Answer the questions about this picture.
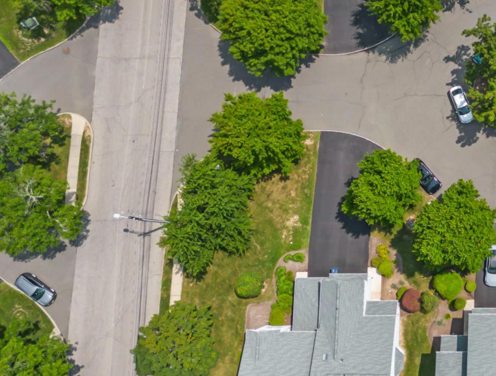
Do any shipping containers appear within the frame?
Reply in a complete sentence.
No, there appears to be no shipping container in this shot.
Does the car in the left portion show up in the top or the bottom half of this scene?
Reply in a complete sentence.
The car in the left portion is in the bottom half of the image.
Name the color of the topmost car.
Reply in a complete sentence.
The topmost car looks white in the image.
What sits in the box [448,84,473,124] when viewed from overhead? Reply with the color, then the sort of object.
white car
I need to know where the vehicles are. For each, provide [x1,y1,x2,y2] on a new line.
[485,245,496,288]
[11,274,56,306]
[448,84,473,124]
[413,156,444,194]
